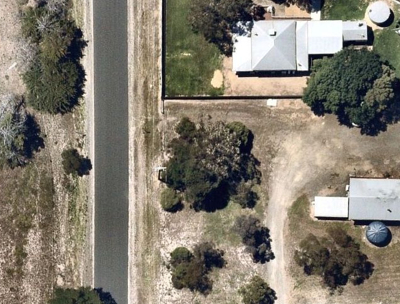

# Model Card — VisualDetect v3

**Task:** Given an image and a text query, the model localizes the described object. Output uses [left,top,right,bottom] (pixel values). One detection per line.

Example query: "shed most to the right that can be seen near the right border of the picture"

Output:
[348,177,400,222]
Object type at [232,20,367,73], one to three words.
house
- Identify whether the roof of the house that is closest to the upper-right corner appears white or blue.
white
